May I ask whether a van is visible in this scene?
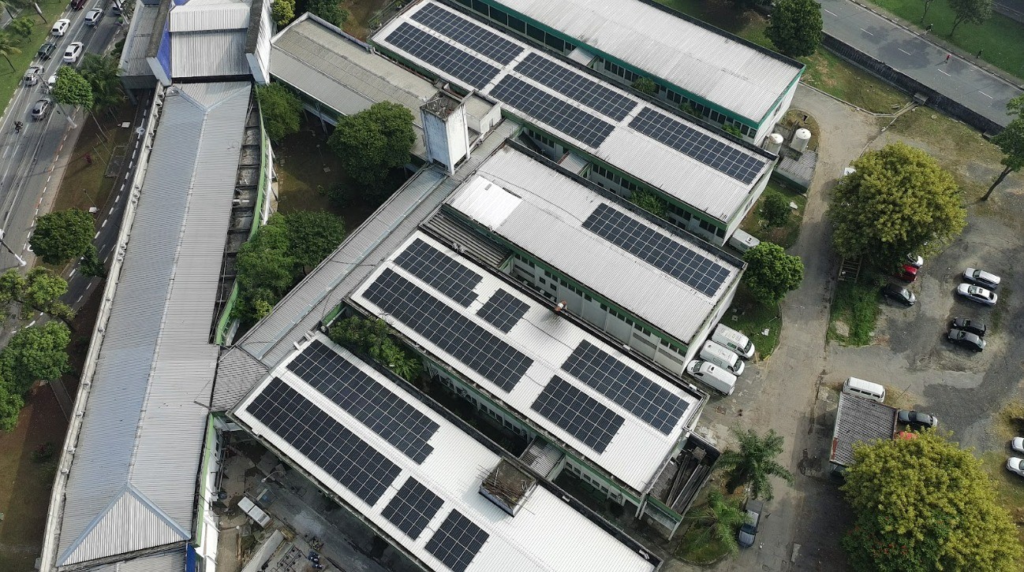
Yes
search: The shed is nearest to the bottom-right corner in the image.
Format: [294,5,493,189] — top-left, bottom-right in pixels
[824,391,899,472]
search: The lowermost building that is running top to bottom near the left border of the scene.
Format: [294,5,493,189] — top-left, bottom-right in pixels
[35,81,279,572]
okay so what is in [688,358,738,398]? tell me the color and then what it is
white van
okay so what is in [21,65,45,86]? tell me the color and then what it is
gray car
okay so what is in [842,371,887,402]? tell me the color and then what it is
white vehicle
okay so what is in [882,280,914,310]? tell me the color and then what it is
black car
